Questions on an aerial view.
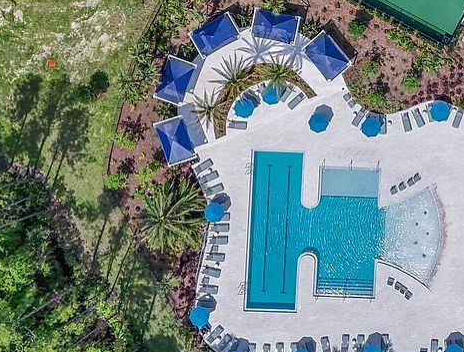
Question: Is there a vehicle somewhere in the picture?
No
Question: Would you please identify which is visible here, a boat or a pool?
pool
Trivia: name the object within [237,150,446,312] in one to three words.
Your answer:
swimming pool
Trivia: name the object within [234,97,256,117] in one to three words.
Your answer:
umbrella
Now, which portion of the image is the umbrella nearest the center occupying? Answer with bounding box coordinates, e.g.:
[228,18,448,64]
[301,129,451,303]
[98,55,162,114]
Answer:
[203,201,225,222]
